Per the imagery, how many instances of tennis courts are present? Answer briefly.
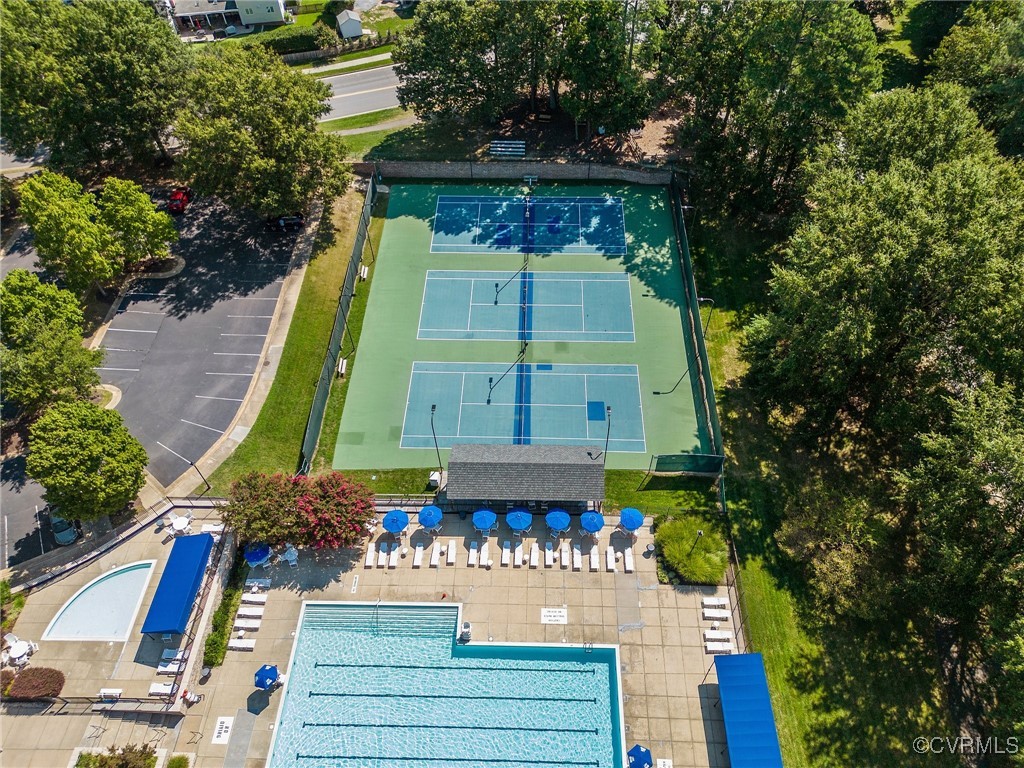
3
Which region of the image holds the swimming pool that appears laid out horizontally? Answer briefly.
bottom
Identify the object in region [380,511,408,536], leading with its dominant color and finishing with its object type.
blue umbrella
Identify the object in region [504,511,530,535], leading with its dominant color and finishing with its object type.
blue umbrella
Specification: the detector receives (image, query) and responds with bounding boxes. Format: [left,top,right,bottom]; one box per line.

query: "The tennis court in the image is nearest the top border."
[430,196,627,254]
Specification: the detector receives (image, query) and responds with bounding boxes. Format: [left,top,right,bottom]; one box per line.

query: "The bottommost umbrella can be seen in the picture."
[626,744,655,768]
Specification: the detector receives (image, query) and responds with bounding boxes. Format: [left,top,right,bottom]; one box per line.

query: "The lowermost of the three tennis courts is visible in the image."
[400,361,646,452]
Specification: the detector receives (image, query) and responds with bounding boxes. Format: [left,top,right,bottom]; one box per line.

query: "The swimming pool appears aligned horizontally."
[265,599,627,768]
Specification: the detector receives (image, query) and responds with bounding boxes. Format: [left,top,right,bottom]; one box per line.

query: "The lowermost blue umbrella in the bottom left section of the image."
[252,664,280,692]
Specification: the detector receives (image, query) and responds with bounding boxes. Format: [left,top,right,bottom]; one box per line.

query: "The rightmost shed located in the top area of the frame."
[340,5,366,38]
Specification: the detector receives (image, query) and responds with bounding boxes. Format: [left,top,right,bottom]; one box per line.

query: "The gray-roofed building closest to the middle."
[444,445,605,514]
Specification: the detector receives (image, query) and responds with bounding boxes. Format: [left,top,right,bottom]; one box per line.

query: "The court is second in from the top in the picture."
[417,270,636,342]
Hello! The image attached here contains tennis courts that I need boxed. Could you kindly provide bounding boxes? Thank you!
[400,361,646,452]
[430,196,627,254]
[417,270,636,342]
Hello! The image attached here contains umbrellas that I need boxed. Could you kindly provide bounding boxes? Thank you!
[242,544,271,569]
[504,511,530,535]
[578,512,605,537]
[416,508,442,533]
[626,744,655,768]
[252,664,280,692]
[544,510,572,535]
[471,510,497,533]
[618,511,645,536]
[380,511,408,536]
